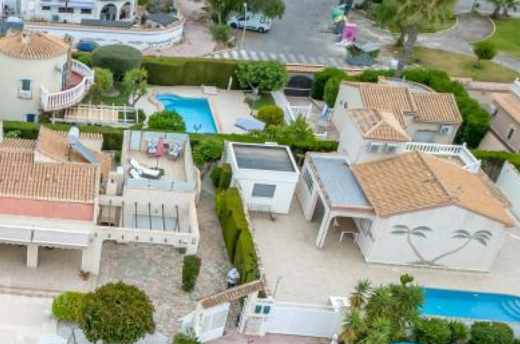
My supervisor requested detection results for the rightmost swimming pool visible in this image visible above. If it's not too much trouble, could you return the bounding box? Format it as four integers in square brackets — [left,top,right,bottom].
[411,282,520,327]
